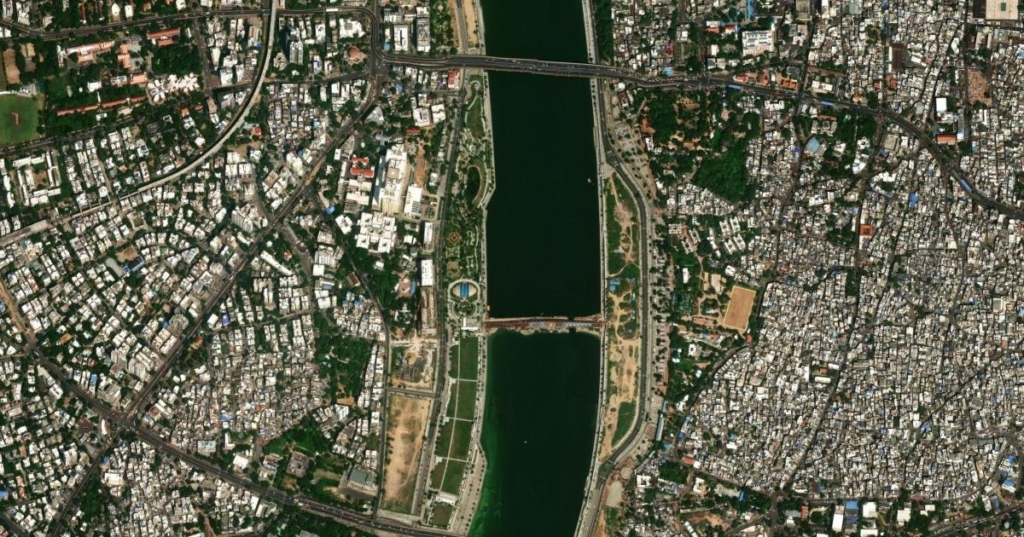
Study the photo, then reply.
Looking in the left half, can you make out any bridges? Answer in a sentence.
Yes, a bridge shows up in the left half.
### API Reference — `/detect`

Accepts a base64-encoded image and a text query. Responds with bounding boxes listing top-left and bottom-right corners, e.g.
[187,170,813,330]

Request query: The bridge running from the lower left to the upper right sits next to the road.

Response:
[48,0,277,227]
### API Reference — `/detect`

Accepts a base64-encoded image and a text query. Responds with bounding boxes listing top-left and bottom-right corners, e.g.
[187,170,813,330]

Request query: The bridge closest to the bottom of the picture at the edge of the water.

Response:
[287,498,495,537]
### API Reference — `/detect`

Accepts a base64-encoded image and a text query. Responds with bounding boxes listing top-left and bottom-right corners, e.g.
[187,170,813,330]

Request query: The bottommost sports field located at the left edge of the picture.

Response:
[0,95,38,144]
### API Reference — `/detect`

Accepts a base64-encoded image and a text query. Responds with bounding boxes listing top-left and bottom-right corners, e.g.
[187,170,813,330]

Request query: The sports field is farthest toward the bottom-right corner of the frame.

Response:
[723,285,756,332]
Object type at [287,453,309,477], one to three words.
building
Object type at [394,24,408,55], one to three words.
building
